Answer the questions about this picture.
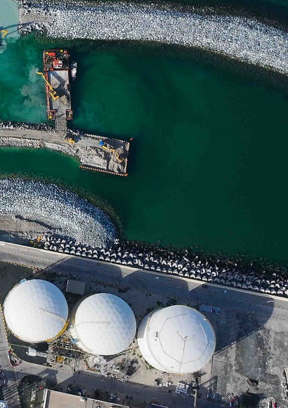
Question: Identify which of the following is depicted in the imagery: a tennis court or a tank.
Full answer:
This aerial view contains a tank.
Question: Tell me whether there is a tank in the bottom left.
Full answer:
Yes, a tank appears in the bottom left.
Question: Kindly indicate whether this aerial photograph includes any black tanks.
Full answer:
No, I find no black tank anywhere in the image.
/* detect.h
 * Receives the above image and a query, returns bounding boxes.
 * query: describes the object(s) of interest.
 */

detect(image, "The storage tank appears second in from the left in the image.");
[71,293,136,355]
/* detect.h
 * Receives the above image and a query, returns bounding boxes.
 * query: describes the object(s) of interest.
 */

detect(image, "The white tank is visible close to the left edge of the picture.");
[2,278,69,345]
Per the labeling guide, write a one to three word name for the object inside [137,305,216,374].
storage tank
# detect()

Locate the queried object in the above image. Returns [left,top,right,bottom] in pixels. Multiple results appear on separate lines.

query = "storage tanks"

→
[137,305,216,374]
[2,278,69,345]
[71,293,136,355]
